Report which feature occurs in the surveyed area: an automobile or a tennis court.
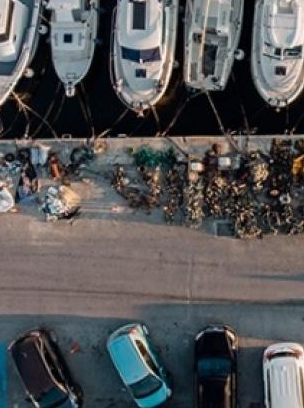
automobile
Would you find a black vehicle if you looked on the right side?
Yes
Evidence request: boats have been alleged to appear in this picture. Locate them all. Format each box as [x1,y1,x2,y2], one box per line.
[110,0,179,115]
[0,0,50,103]
[49,0,103,96]
[252,0,304,112]
[177,0,245,93]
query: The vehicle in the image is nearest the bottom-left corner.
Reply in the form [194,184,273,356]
[12,321,82,408]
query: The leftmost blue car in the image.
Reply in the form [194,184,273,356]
[111,320,169,408]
